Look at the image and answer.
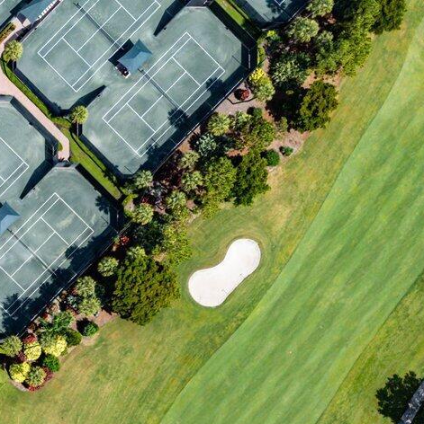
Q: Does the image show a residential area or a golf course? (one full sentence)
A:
The picture captures a golf course.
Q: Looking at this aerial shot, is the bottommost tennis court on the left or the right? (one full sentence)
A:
The bottommost tennis court sits on the left side.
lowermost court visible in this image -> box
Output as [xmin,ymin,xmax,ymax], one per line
[0,165,118,335]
